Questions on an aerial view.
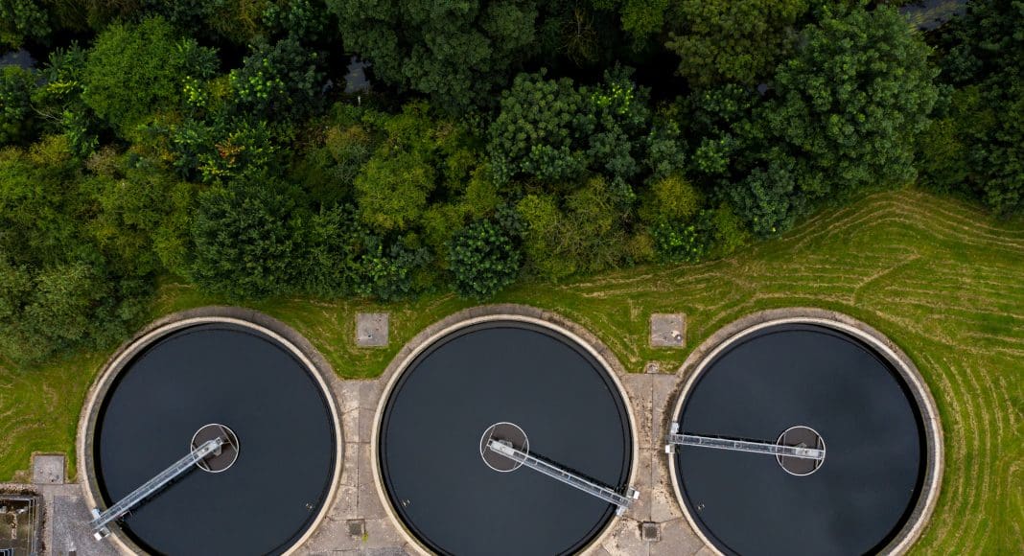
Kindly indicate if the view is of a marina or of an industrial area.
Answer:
industrial area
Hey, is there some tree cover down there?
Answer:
Yes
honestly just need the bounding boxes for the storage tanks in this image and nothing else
[372,317,639,556]
[669,318,940,556]
[79,319,343,556]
